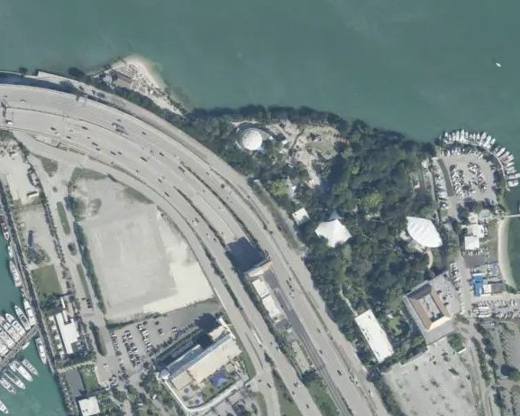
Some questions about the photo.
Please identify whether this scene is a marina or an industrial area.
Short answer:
marina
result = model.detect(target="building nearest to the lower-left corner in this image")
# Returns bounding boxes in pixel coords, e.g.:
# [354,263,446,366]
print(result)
[77,396,100,416]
